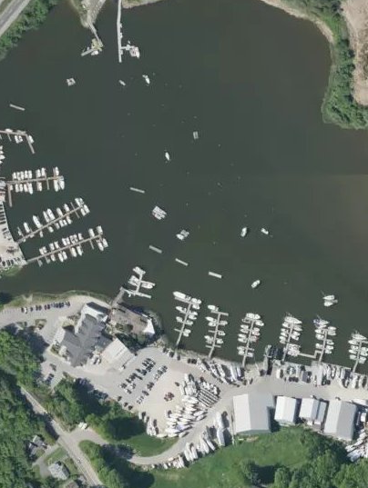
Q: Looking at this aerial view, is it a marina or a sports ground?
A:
marina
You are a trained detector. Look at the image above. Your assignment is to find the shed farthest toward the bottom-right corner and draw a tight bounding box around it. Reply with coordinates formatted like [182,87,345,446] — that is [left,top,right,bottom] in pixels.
[323,402,356,441]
